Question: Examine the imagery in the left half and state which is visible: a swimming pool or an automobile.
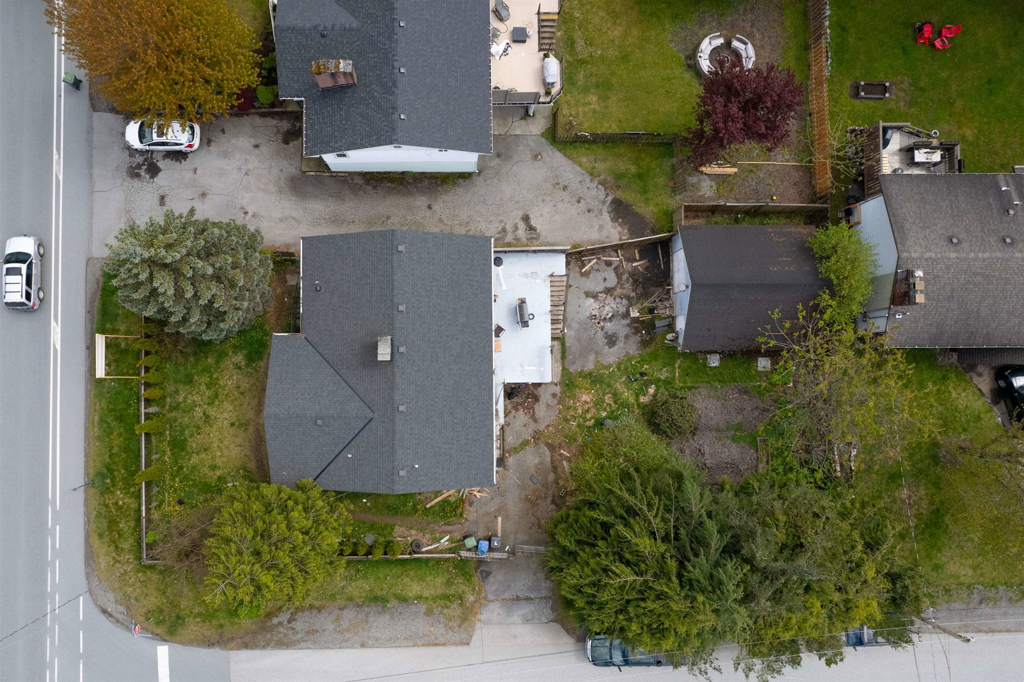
automobile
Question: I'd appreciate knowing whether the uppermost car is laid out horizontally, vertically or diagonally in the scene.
horizontally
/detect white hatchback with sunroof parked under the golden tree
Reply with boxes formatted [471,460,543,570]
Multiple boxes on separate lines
[126,113,201,151]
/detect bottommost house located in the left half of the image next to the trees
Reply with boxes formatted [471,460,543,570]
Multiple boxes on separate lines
[264,232,497,494]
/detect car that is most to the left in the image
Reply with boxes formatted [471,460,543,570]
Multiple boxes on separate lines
[1,235,45,310]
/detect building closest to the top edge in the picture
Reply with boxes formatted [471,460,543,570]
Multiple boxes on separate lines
[268,0,494,174]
